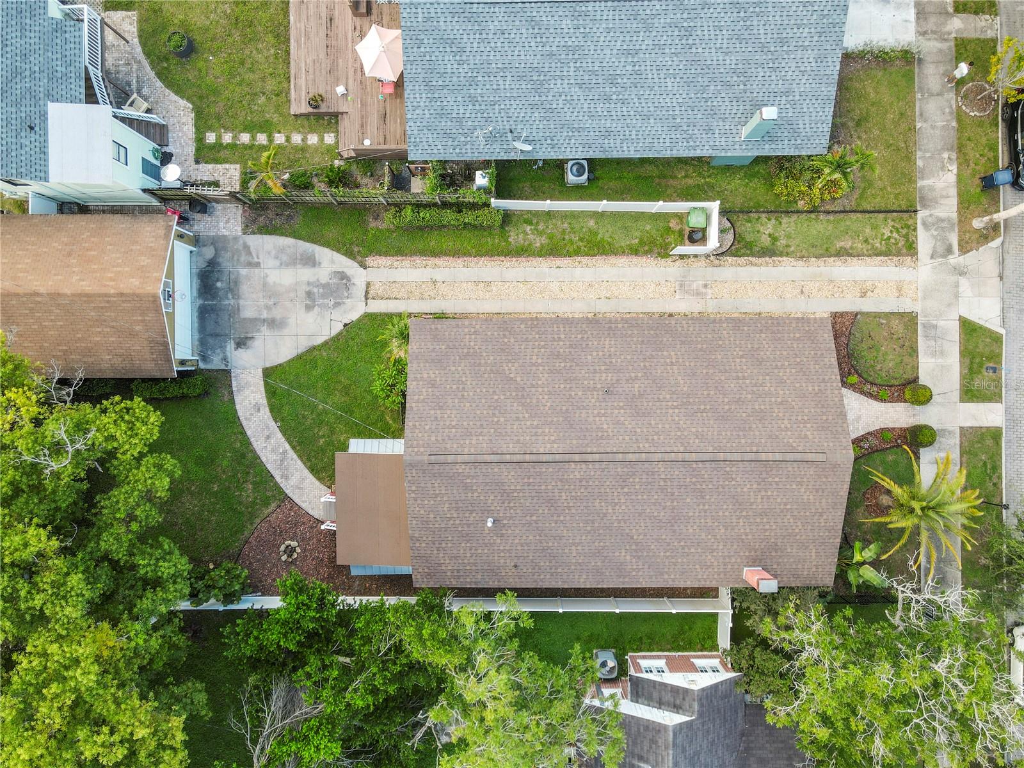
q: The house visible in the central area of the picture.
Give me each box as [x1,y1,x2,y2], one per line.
[335,312,855,594]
